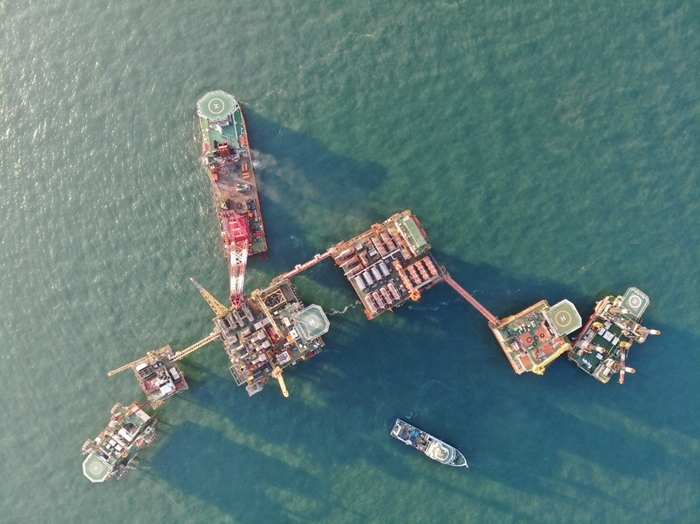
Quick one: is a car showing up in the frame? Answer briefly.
No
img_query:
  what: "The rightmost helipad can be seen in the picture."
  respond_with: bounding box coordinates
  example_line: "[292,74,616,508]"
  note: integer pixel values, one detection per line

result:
[620,288,650,320]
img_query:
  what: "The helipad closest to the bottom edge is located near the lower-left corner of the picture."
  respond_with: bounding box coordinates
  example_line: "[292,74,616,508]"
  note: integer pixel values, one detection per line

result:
[82,452,112,482]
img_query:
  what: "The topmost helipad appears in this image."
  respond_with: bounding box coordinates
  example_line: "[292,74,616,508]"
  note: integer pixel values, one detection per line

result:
[196,89,234,120]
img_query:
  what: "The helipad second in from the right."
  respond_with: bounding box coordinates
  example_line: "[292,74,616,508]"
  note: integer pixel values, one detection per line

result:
[542,299,582,337]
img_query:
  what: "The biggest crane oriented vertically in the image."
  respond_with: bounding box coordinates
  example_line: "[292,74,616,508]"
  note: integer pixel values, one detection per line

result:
[225,211,252,308]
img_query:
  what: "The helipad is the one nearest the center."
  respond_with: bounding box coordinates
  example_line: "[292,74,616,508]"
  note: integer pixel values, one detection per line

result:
[295,304,329,341]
